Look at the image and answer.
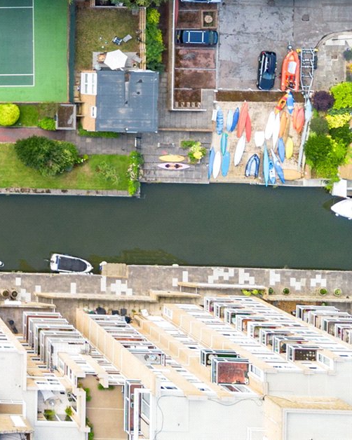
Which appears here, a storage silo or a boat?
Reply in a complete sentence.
The one in the frame is a boat.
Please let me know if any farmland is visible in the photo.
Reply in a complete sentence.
No, farmland can't be seen anywhere here.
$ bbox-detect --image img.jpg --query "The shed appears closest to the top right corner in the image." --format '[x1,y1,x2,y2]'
[214,91,316,103]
